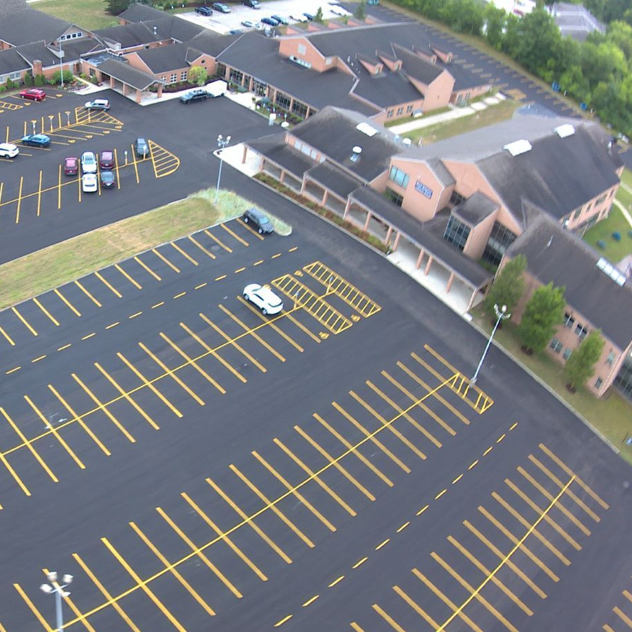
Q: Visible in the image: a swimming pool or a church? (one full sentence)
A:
This aerial view contains a church.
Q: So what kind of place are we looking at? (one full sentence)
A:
It's a parking lot.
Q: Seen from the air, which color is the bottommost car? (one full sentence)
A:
The bottommost car is white.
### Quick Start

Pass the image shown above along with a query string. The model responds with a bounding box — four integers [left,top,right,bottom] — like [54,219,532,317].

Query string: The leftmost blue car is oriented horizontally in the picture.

[20,133,53,148]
